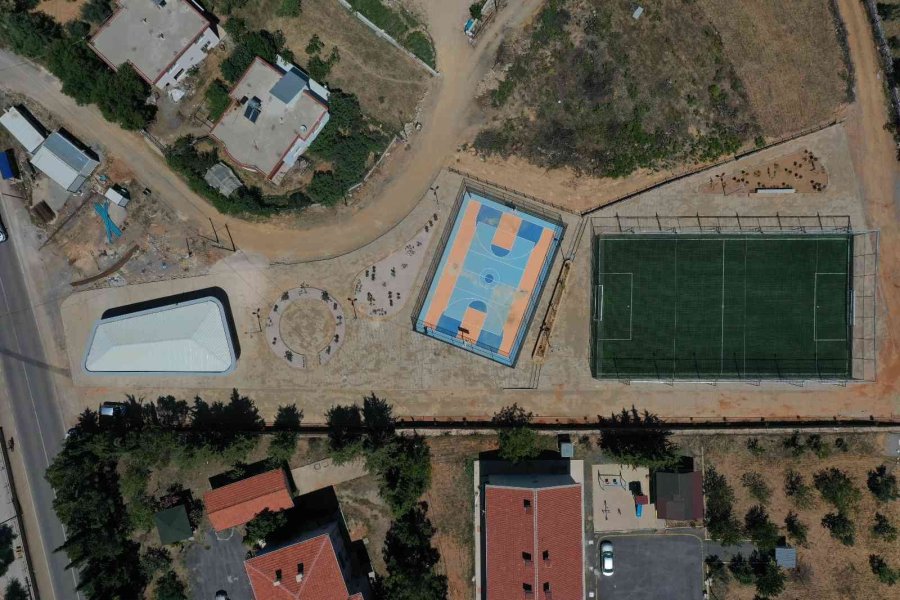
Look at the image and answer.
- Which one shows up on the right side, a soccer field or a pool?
soccer field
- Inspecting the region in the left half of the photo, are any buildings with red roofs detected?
Yes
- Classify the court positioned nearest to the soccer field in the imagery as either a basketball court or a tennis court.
basketball court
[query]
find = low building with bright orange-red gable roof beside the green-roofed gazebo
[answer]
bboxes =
[204,466,295,531]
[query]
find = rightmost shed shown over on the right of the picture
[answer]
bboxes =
[768,542,797,567]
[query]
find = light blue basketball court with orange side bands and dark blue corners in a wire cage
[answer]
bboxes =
[414,189,564,366]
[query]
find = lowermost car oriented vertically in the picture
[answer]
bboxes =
[600,543,616,578]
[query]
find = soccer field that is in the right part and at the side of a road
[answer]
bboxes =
[590,228,854,384]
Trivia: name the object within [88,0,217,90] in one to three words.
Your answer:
house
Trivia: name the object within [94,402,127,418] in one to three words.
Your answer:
car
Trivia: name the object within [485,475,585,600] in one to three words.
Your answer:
building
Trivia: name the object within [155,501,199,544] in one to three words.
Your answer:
gazebo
